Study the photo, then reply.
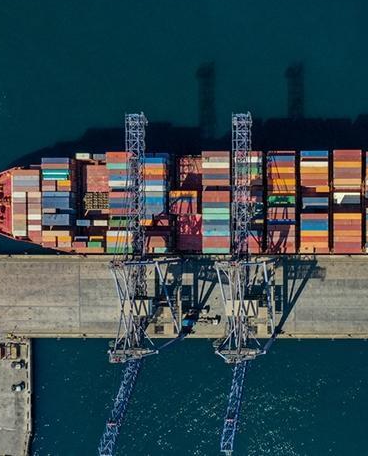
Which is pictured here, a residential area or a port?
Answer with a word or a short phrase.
port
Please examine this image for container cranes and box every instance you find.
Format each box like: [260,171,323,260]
[215,112,284,456]
[90,112,193,456]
